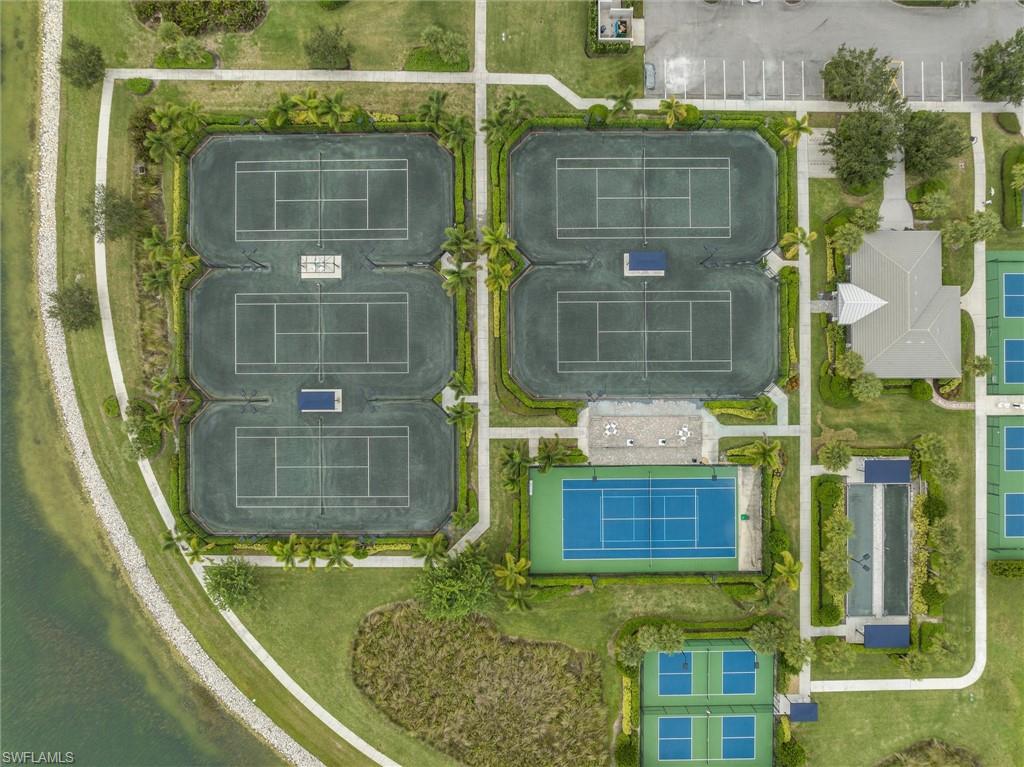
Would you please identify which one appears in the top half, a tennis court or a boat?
tennis court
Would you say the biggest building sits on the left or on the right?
right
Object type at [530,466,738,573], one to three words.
tennis court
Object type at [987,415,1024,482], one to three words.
sports court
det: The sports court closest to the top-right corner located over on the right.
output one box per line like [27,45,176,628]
[986,251,1024,328]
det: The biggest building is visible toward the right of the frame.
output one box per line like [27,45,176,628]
[831,231,962,379]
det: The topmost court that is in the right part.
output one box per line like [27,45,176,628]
[511,132,776,265]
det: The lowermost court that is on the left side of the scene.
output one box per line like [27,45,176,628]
[191,400,454,535]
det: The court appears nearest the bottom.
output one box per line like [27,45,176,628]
[641,706,774,767]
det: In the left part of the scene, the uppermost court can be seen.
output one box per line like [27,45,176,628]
[190,135,452,267]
